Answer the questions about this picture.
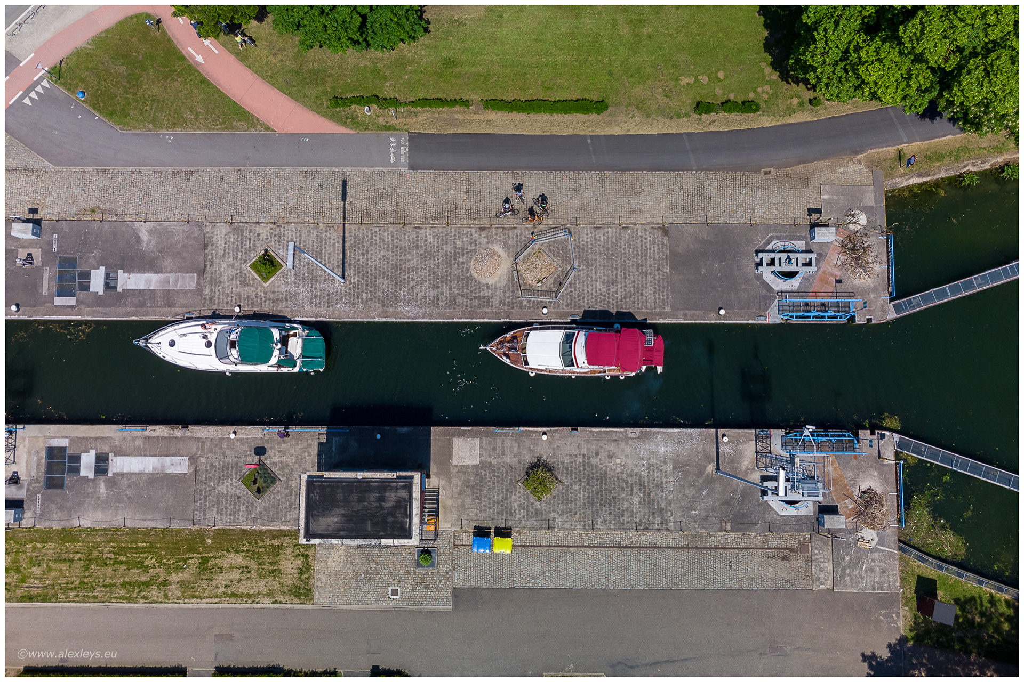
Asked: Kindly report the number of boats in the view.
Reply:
2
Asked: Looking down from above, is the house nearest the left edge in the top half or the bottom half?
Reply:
bottom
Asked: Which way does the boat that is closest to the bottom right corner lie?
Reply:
from left to right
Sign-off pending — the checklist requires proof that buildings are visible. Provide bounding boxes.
[917,594,956,626]
[297,467,426,545]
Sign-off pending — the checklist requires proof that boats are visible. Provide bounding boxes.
[480,321,664,380]
[133,318,327,376]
